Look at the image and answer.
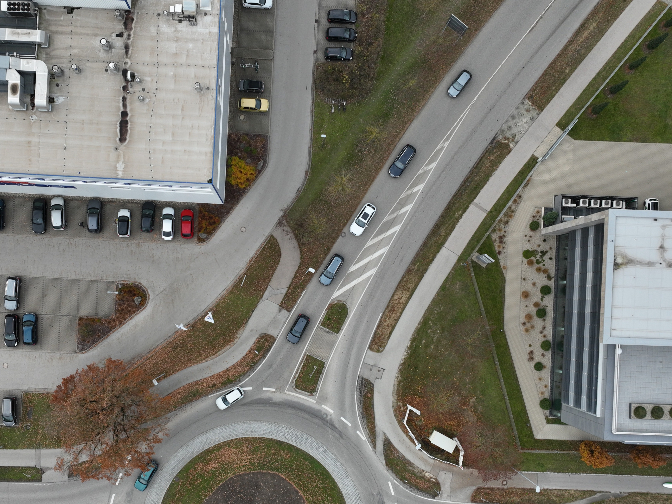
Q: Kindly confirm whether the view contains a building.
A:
Yes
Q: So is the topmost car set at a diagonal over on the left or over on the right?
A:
right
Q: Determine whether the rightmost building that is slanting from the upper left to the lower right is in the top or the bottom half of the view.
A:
bottom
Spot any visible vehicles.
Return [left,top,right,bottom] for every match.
[134,458,159,491]
[351,202,376,237]
[4,277,21,310]
[3,314,20,347]
[320,253,344,286]
[86,201,103,233]
[140,202,155,232]
[243,0,273,9]
[643,198,660,211]
[1,396,19,426]
[447,69,473,100]
[179,209,195,239]
[327,7,357,25]
[21,314,38,344]
[239,78,265,94]
[160,207,176,240]
[326,26,357,43]
[287,313,310,344]
[31,200,48,233]
[390,143,415,179]
[49,198,66,231]
[216,386,244,409]
[324,45,353,62]
[0,200,5,229]
[116,210,131,237]
[238,96,269,113]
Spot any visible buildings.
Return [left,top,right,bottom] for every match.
[427,428,457,453]
[0,0,233,204]
[541,207,672,446]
